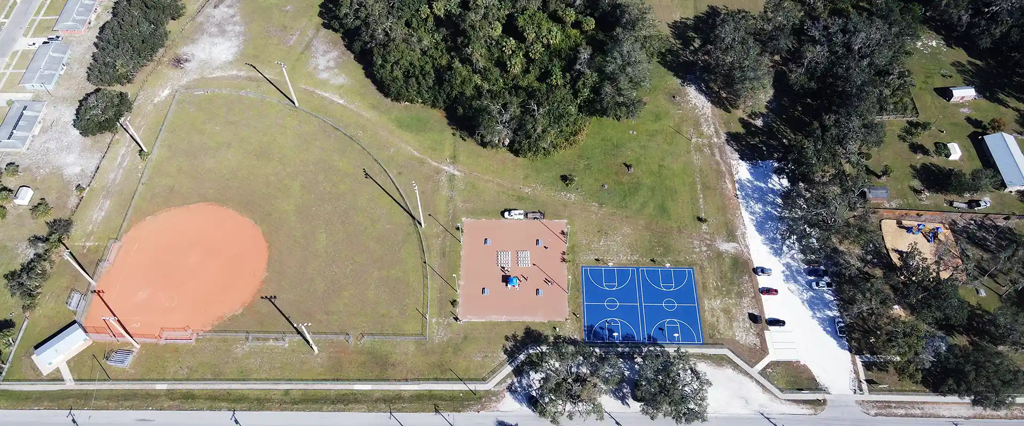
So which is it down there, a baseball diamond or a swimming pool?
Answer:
baseball diamond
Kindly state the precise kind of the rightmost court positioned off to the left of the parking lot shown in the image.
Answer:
basketball court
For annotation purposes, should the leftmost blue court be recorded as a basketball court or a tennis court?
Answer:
basketball court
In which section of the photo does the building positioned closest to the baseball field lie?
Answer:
bottom left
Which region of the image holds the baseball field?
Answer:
left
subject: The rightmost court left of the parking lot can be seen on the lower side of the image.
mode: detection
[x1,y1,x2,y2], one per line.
[640,268,706,346]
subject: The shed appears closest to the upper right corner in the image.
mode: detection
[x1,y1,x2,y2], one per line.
[948,89,979,105]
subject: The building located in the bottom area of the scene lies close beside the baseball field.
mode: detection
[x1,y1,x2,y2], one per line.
[31,320,92,376]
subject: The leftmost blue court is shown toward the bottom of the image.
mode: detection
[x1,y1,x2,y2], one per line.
[583,267,646,345]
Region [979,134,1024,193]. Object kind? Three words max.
barn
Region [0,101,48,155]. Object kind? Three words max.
house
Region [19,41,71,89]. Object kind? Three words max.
house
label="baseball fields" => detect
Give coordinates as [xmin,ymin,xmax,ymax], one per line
[84,91,427,343]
